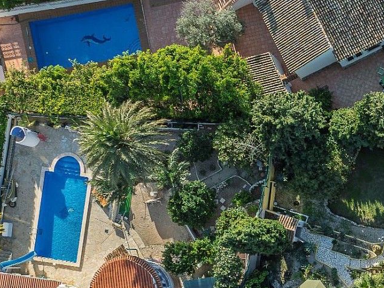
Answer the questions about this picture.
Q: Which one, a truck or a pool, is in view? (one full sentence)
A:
The image shows a pool.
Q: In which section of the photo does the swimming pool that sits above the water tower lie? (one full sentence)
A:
The swimming pool that sits above the water tower appears toward the top left of the photo.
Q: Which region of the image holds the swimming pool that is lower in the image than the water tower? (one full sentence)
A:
The swimming pool that is lower in the image than the water tower is located in the bottom left region of the scene.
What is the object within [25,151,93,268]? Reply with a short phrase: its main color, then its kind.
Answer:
blue swimming pool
